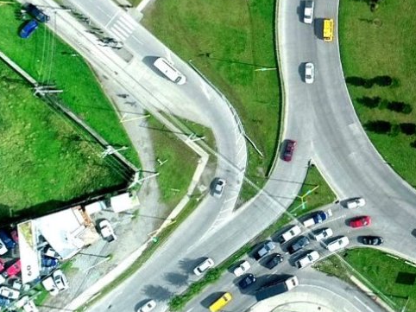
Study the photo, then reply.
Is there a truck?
Yes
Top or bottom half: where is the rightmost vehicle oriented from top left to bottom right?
top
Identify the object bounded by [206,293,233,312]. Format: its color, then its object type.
yellow vehicle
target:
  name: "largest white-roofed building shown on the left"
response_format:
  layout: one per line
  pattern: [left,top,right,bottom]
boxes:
[34,208,93,261]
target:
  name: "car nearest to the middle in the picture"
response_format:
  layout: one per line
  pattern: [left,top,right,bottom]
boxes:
[212,177,226,197]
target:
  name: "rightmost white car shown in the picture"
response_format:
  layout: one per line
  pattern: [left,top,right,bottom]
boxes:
[345,197,367,210]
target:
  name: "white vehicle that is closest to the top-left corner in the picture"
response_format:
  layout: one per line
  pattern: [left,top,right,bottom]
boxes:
[149,56,189,86]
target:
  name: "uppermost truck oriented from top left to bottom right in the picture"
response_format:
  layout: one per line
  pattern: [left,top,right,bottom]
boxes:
[21,1,50,23]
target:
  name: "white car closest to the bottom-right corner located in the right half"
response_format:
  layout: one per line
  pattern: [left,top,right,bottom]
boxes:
[326,235,351,254]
